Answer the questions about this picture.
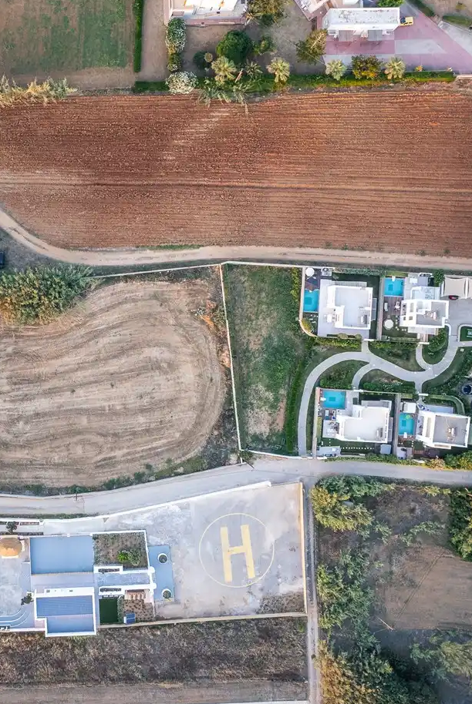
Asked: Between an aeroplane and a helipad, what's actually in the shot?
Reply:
helipad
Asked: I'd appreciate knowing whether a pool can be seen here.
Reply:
Yes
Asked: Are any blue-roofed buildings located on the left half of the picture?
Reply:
Yes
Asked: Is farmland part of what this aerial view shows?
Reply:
Yes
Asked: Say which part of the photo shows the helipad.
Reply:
bottom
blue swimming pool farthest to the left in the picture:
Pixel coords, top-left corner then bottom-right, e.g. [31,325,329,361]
[303,287,321,313]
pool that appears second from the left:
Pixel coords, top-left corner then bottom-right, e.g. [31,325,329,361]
[321,389,347,411]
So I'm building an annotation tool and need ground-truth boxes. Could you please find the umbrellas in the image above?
[383,320,394,329]
[305,267,315,277]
